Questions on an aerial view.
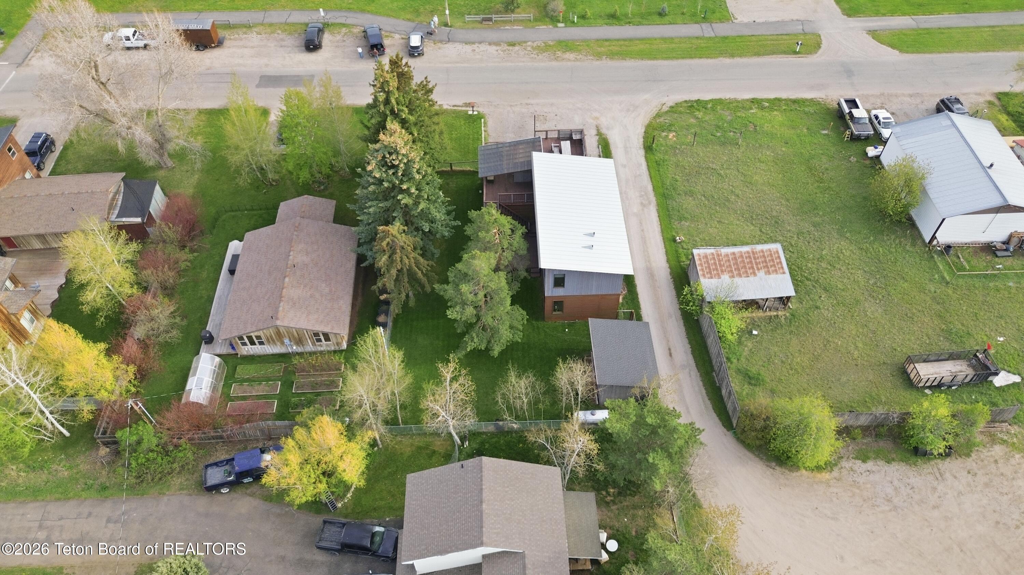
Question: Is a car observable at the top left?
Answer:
Yes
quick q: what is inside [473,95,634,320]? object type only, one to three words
house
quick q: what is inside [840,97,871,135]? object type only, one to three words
truck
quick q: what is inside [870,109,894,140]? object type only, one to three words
car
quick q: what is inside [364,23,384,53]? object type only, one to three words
vehicle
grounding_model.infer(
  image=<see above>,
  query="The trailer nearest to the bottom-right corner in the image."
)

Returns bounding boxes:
[905,348,1003,387]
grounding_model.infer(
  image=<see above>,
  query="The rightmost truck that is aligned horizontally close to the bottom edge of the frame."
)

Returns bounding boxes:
[315,520,403,563]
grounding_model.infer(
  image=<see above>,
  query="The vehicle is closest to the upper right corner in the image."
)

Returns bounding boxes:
[935,88,979,118]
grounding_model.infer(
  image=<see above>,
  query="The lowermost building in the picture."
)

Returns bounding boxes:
[393,455,599,575]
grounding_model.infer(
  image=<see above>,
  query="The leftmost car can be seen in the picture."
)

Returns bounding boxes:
[22,134,56,172]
